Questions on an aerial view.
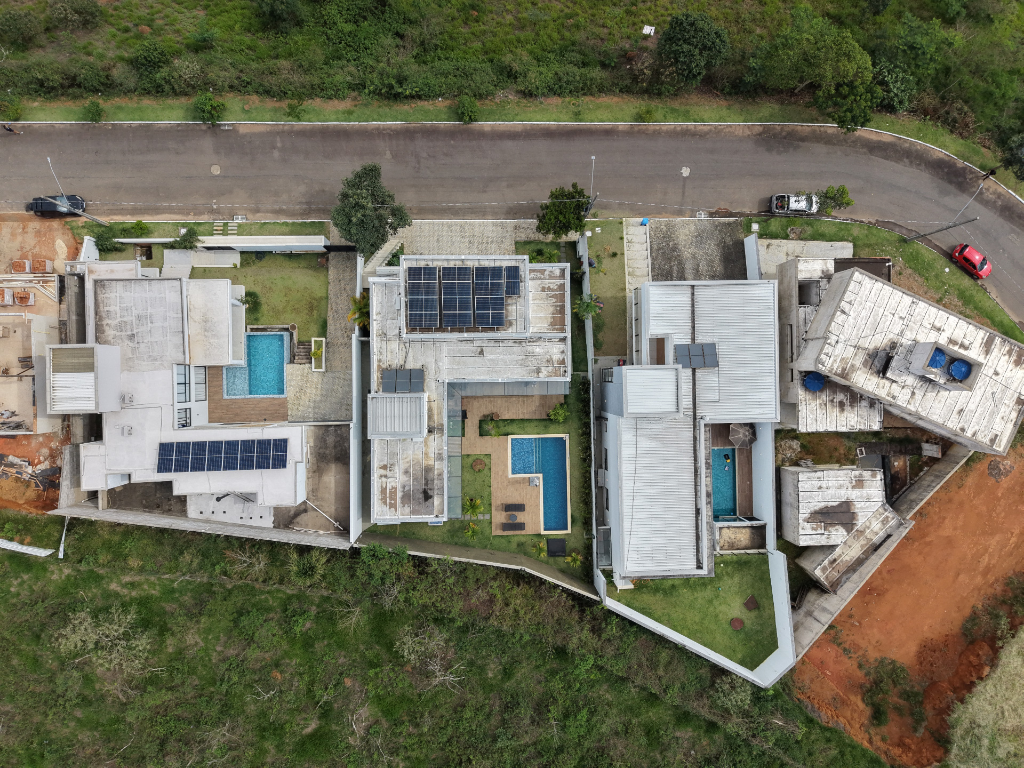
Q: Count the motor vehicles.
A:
3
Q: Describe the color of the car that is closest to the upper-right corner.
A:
red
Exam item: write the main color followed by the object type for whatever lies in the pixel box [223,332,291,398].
blue swimming pool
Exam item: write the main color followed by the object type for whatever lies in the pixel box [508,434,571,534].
blue swimming pool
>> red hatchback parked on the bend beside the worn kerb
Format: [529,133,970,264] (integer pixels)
[953,240,999,278]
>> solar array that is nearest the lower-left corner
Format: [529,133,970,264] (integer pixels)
[157,438,288,473]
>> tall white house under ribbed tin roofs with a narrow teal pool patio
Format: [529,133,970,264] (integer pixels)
[595,281,780,580]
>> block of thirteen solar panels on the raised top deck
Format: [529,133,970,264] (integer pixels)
[408,261,520,333]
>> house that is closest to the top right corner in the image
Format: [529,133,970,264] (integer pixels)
[777,258,1024,454]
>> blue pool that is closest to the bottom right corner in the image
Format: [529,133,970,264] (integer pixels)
[713,447,738,516]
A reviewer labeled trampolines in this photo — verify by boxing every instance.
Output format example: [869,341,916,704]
[548,539,565,557]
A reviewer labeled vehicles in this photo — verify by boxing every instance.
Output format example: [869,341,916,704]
[20,190,85,219]
[953,240,999,278]
[771,190,824,216]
